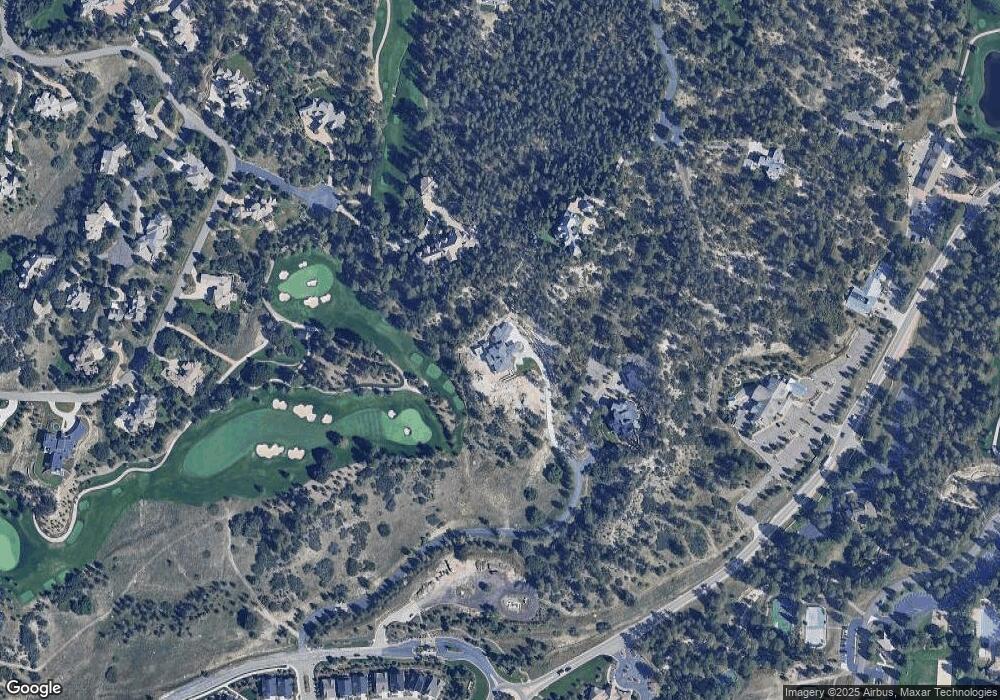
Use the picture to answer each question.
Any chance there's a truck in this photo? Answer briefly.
No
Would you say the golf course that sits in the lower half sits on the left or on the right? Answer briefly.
left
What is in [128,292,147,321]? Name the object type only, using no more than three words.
house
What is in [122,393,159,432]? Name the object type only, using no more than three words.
house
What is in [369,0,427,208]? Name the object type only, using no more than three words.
golf course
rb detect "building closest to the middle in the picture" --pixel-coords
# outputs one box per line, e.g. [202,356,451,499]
[484,319,521,376]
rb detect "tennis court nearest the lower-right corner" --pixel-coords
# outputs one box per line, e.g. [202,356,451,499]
[805,606,826,645]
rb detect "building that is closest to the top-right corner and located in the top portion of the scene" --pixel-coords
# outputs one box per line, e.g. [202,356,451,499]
[913,142,955,191]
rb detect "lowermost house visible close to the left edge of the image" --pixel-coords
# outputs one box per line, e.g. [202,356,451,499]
[41,420,91,470]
